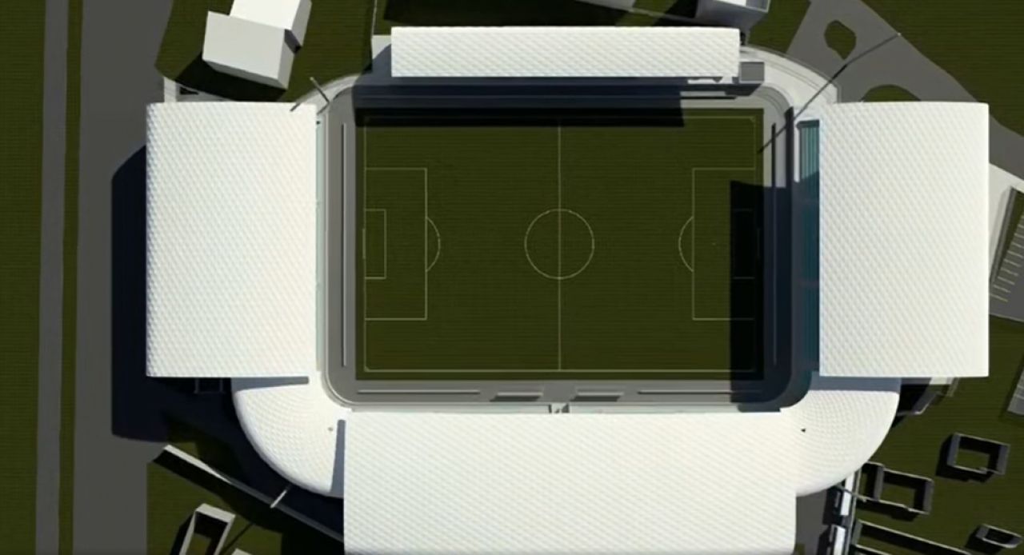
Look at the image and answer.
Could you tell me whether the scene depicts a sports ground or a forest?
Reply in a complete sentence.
This image shows a sports ground.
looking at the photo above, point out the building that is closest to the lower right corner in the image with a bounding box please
[974,524,1021,548]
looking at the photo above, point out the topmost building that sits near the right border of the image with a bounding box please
[947,434,1010,475]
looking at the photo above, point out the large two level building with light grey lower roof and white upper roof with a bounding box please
[202,0,317,89]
